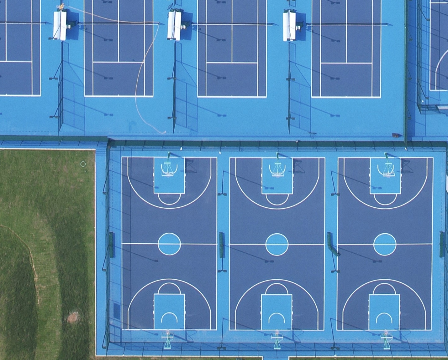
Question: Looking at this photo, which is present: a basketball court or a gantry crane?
basketball court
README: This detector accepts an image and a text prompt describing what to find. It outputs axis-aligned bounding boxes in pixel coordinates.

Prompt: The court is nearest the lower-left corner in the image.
[122,157,217,330]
